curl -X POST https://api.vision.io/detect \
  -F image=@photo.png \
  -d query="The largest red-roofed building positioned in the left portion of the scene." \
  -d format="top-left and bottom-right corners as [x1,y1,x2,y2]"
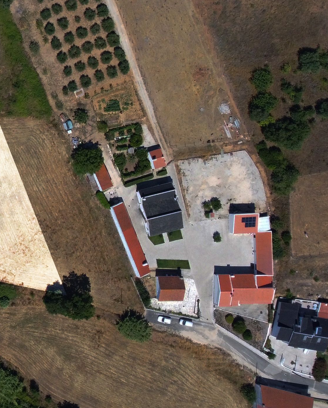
[109,202,151,278]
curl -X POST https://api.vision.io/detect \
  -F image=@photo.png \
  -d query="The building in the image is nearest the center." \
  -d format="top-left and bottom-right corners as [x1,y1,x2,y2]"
[133,182,184,237]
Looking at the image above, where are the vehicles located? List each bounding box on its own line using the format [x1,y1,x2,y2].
[157,315,171,323]
[178,318,193,327]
